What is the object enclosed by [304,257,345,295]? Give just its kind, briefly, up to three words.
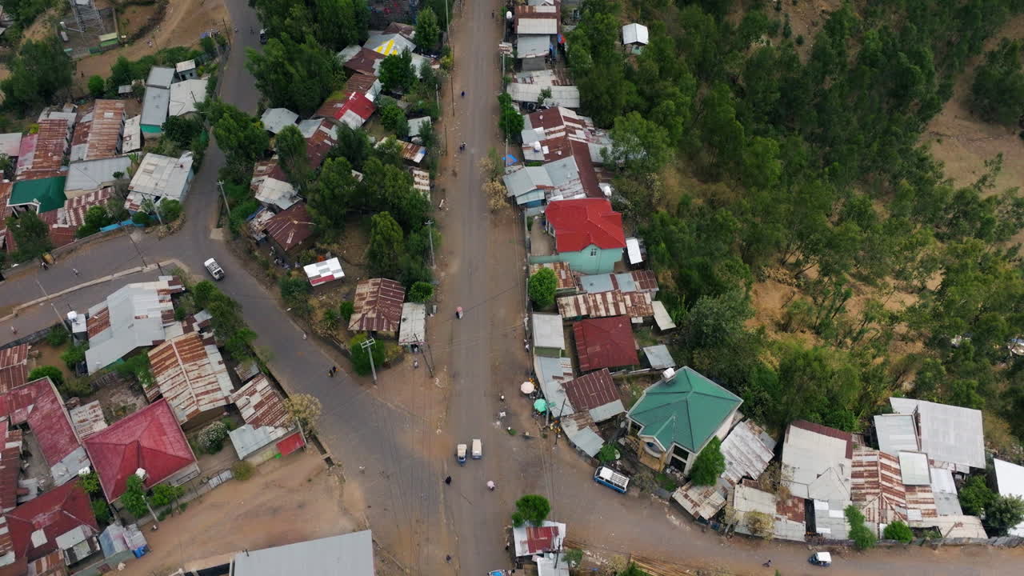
shed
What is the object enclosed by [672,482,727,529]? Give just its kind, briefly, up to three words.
building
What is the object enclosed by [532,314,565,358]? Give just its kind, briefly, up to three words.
building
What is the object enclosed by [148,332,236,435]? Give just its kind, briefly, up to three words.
house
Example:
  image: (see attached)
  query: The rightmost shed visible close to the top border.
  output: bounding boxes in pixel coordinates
[623,23,648,54]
